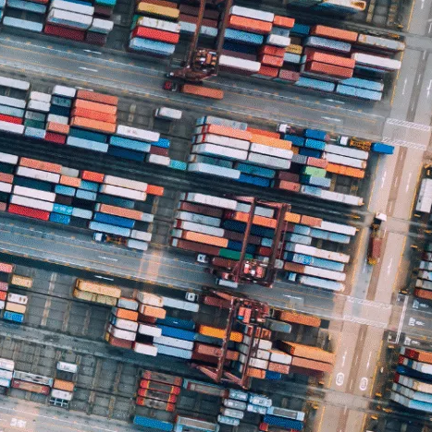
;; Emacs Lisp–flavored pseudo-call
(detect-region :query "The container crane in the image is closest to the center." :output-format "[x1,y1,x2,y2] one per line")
[206,191,288,286]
